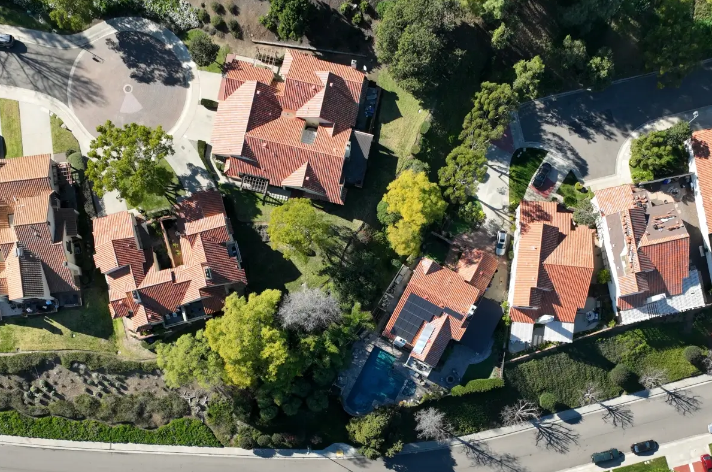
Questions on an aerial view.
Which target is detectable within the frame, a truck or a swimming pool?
swimming pool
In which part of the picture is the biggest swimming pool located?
bottom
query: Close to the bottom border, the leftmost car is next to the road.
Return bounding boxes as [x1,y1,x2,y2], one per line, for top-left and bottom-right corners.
[591,448,620,464]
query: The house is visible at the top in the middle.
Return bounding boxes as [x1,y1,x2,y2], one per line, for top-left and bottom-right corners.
[211,48,381,206]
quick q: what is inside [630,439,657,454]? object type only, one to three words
car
